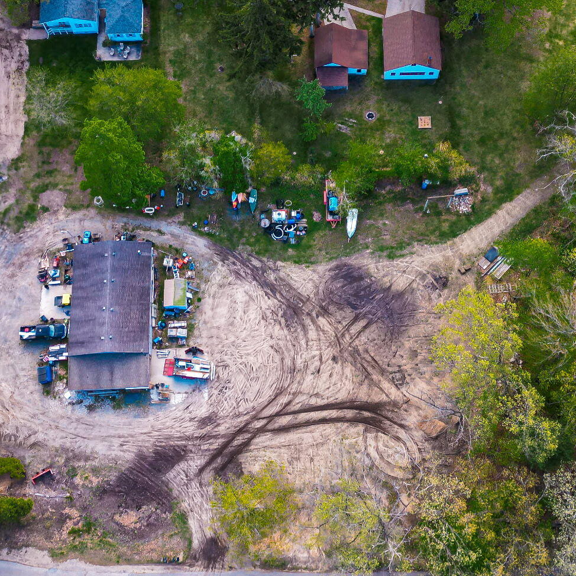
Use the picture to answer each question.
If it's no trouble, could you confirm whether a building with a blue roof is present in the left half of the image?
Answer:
Yes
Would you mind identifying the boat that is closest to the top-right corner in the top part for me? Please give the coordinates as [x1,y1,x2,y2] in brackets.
[347,205,360,245]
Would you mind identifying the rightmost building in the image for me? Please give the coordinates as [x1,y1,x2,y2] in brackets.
[381,13,441,78]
